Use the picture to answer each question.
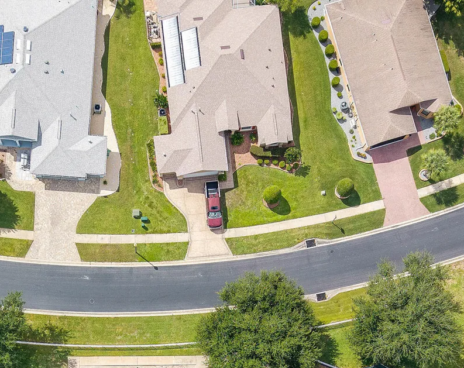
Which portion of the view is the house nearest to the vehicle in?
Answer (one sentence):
The house nearest to the vehicle is located in the top region of the scene.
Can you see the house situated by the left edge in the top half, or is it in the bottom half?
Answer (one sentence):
It is in the top half that the house situated by the left edge appears.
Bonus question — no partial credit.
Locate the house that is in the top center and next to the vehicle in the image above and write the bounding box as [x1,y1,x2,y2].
[153,0,295,179]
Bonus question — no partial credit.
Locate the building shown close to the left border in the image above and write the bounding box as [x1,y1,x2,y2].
[0,0,107,181]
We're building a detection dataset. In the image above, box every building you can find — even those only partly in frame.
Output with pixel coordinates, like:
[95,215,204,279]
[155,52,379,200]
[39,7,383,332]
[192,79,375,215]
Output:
[0,0,107,181]
[322,0,451,153]
[153,0,295,179]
